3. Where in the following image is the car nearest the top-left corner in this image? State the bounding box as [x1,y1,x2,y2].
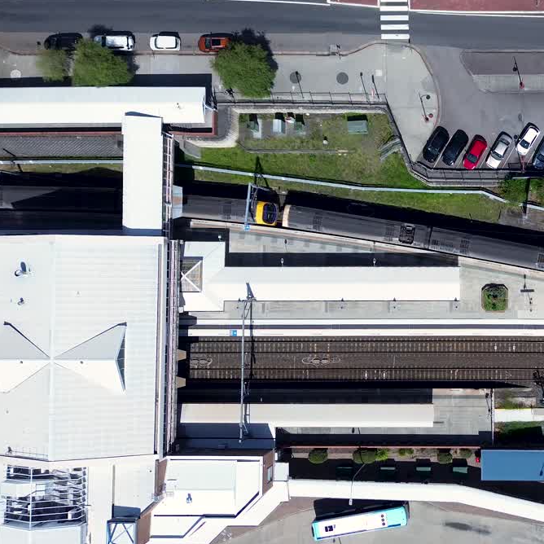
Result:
[47,33,83,51]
